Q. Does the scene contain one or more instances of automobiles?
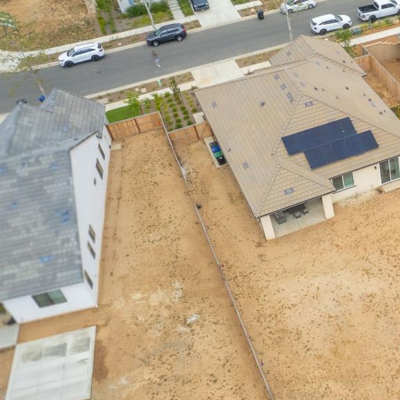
Yes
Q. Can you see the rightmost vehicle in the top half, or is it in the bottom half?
top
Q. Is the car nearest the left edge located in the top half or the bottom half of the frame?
top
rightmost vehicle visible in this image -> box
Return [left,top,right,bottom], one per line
[360,0,400,20]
